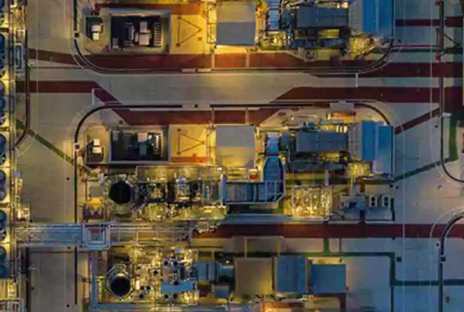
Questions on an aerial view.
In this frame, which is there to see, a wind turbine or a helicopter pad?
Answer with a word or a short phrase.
wind turbine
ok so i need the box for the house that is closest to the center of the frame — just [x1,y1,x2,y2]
[210,127,261,166]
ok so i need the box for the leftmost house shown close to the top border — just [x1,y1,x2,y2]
[210,2,261,49]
